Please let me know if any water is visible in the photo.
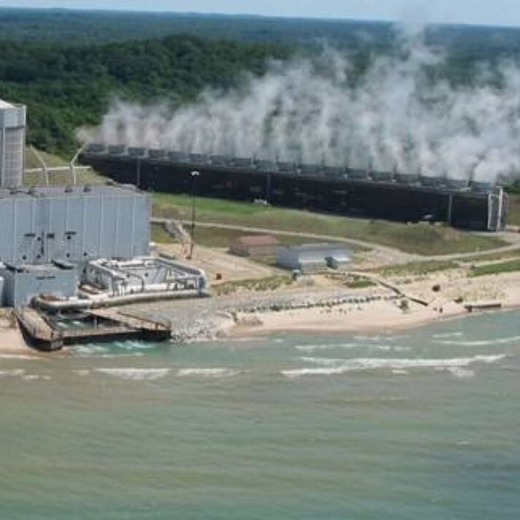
Yes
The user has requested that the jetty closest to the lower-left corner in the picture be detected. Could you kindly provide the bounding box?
[14,307,177,352]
